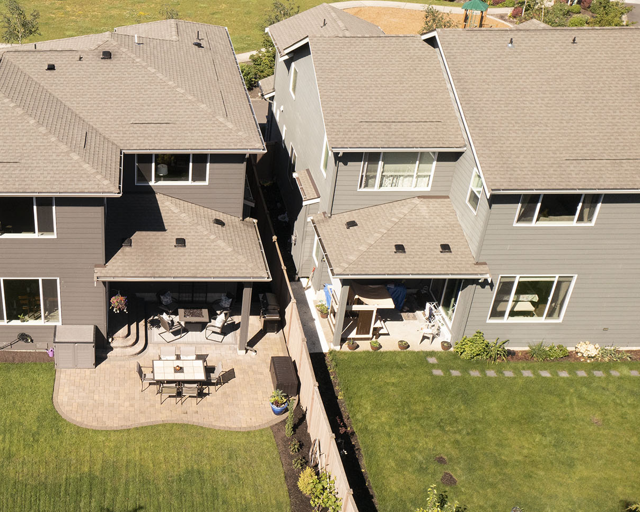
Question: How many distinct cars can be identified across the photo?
0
